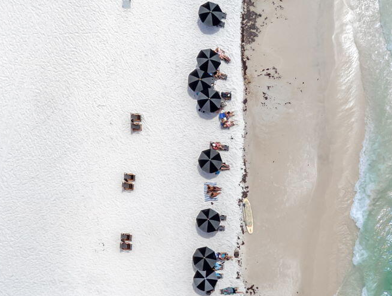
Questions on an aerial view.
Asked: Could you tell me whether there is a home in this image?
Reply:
No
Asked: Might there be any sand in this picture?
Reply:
Yes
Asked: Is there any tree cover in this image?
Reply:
No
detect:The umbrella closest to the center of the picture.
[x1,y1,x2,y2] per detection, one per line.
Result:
[197,150,223,175]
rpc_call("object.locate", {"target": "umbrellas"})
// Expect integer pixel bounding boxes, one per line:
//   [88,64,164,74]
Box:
[189,71,213,96]
[198,4,223,30]
[197,150,223,175]
[192,247,218,272]
[196,210,221,235]
[198,90,223,115]
[196,49,221,74]
[194,271,219,294]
